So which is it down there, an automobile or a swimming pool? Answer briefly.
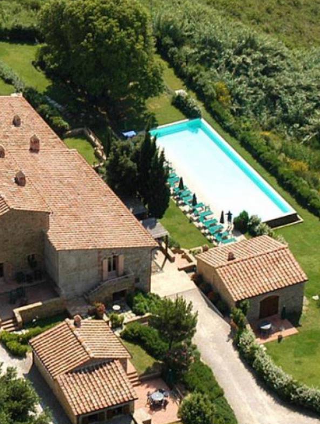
swimming pool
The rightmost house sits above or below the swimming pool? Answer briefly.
below it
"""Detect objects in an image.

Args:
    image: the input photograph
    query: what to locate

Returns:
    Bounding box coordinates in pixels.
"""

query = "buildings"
[193,235,307,325]
[0,94,157,319]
